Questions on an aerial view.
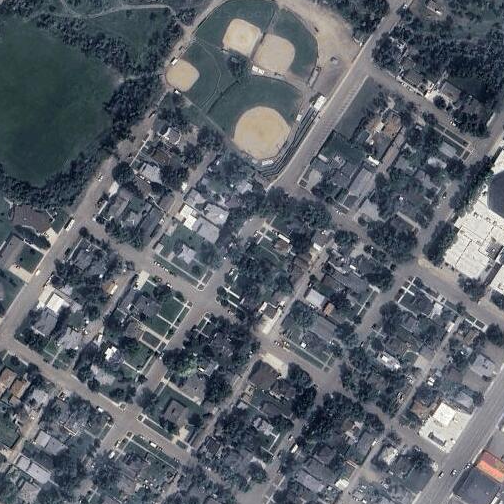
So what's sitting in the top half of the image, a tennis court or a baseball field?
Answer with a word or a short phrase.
baseball field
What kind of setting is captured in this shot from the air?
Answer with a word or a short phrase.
residential area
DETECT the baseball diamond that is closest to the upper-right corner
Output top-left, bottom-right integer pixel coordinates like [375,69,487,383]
[254,8,317,79]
